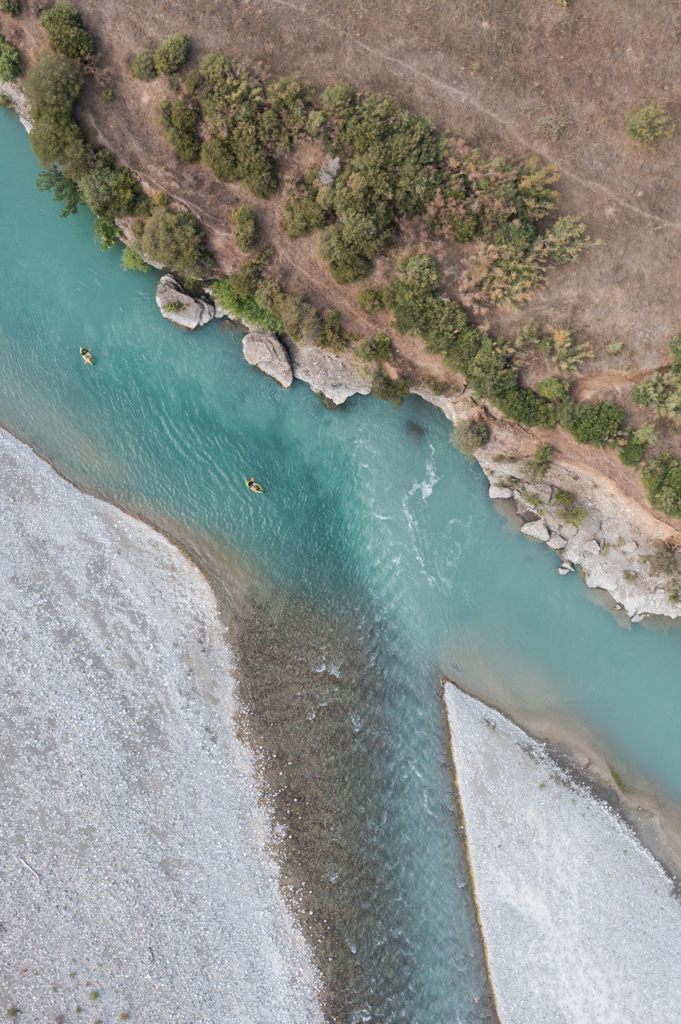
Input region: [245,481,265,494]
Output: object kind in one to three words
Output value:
boat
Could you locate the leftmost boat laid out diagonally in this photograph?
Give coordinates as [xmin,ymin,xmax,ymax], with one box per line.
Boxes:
[79,346,94,365]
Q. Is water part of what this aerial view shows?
Yes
